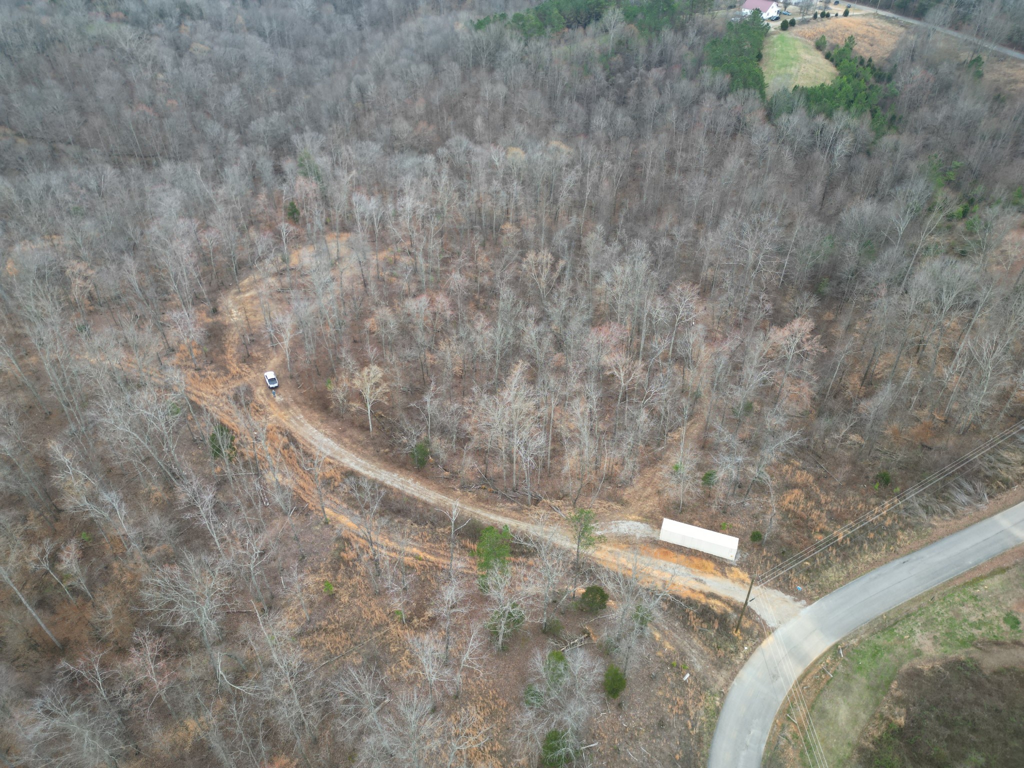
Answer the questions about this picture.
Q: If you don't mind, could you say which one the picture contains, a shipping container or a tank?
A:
shipping container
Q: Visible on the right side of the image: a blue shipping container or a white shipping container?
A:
white shipping container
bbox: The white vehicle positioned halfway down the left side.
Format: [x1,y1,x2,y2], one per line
[263,370,278,390]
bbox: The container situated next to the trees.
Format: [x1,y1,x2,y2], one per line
[660,518,739,560]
